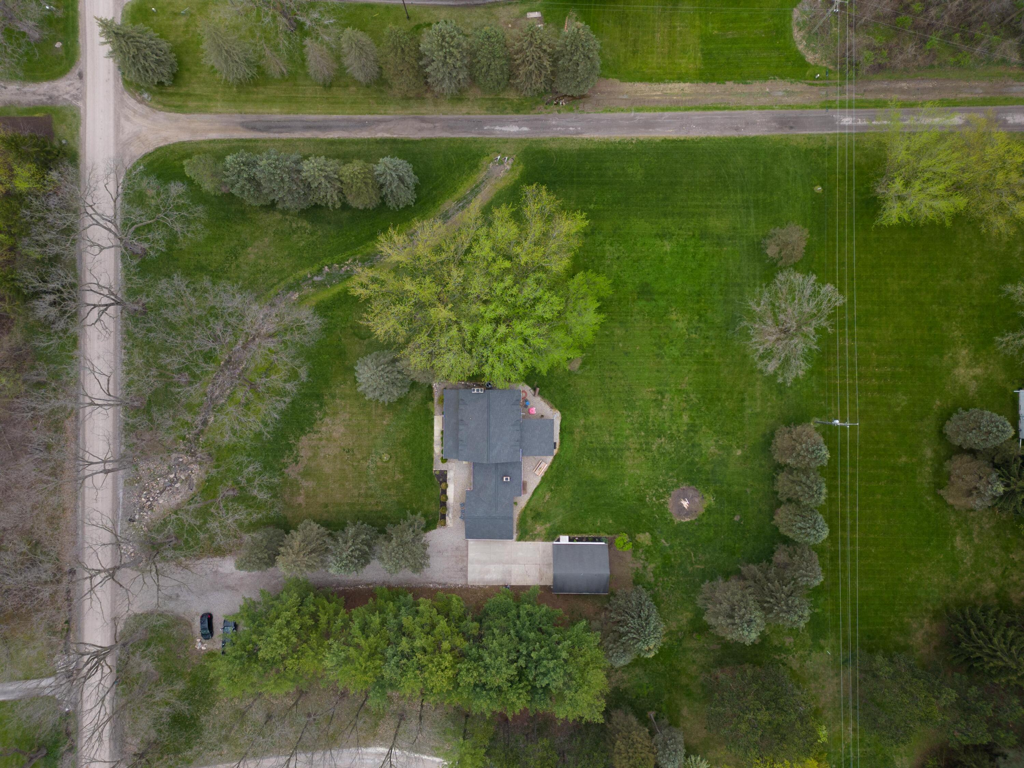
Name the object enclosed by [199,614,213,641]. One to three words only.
car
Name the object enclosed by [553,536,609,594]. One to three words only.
shed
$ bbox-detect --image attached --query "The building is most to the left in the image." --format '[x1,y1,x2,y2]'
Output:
[443,388,554,540]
